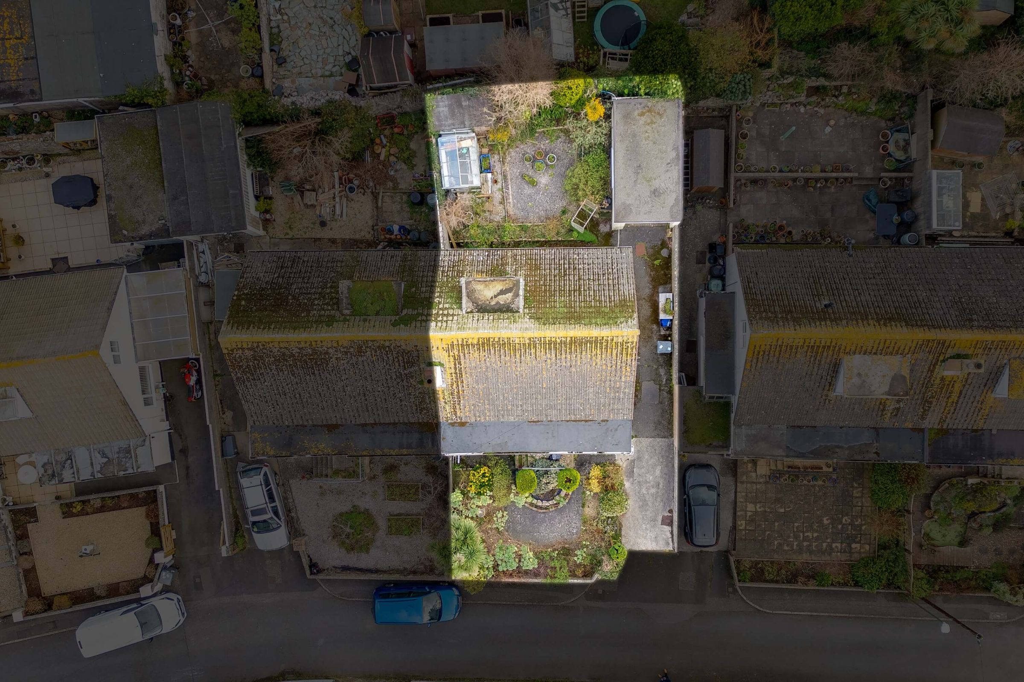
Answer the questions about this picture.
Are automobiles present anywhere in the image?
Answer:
Yes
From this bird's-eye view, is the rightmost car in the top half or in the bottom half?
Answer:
bottom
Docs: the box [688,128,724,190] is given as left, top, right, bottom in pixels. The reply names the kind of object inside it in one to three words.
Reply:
shed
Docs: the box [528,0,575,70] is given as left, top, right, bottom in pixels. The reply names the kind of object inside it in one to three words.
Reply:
greenhouse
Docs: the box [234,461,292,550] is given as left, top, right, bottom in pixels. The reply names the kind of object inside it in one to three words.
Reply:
car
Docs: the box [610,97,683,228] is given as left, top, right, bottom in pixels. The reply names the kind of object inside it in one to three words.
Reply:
building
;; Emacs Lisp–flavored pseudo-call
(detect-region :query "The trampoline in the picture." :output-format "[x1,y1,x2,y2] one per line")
[594,0,653,55]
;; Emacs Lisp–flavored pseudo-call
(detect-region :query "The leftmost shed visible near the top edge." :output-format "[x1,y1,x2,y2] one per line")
[0,0,172,118]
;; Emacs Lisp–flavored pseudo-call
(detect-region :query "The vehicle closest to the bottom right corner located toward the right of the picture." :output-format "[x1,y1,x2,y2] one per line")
[679,463,728,548]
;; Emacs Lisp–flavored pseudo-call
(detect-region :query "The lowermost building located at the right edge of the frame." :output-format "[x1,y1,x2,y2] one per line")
[723,237,1024,467]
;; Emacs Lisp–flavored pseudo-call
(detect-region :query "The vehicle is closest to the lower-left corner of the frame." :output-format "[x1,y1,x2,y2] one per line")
[74,589,191,663]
